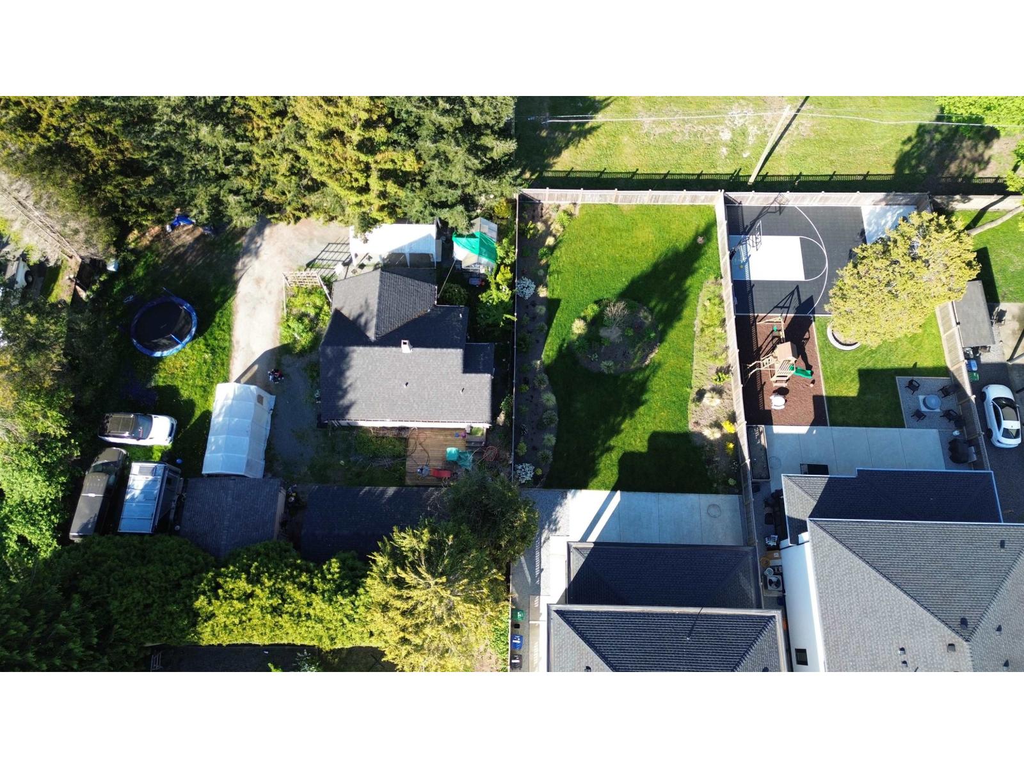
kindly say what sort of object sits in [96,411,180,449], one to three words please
car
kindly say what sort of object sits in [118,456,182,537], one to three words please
camper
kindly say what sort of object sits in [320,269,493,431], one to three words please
house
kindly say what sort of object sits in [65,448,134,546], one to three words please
truck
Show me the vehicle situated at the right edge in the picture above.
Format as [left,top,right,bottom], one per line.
[982,385,1024,449]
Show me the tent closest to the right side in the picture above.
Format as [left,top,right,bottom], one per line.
[347,220,438,267]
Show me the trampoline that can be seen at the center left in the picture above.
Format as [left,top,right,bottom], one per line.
[130,283,201,359]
